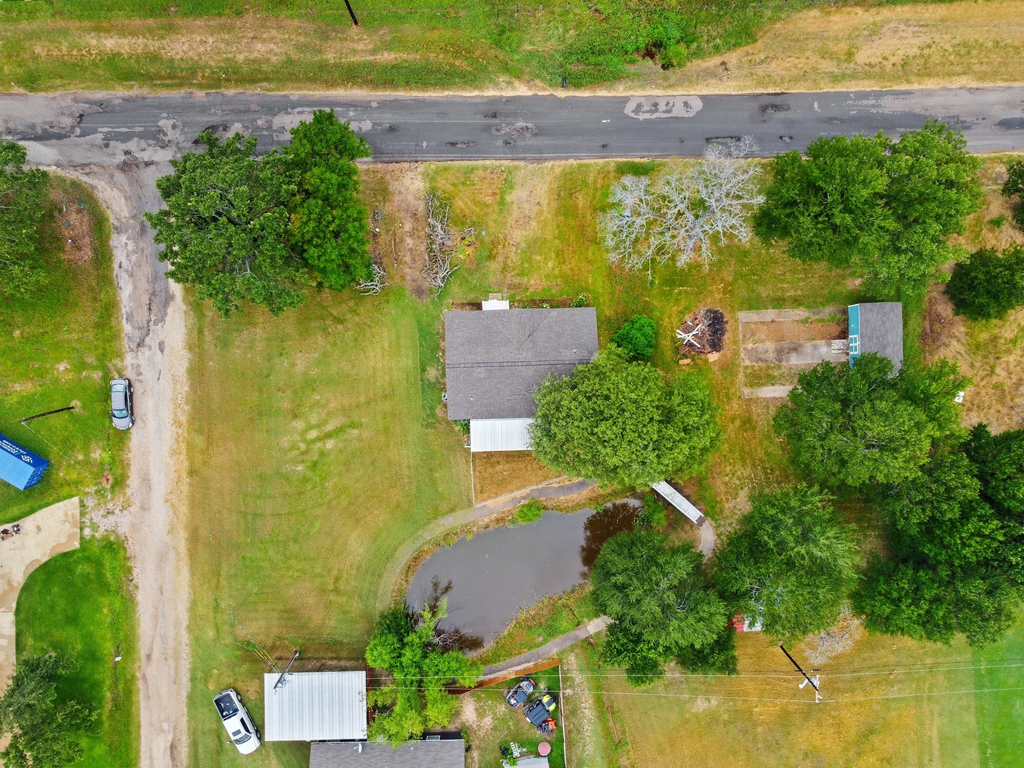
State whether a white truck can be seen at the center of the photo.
No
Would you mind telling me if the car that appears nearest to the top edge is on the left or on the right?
left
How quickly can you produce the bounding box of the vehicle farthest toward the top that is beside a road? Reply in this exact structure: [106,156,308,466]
[108,377,136,430]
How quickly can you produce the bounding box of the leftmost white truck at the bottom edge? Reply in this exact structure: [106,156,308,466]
[212,691,261,757]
